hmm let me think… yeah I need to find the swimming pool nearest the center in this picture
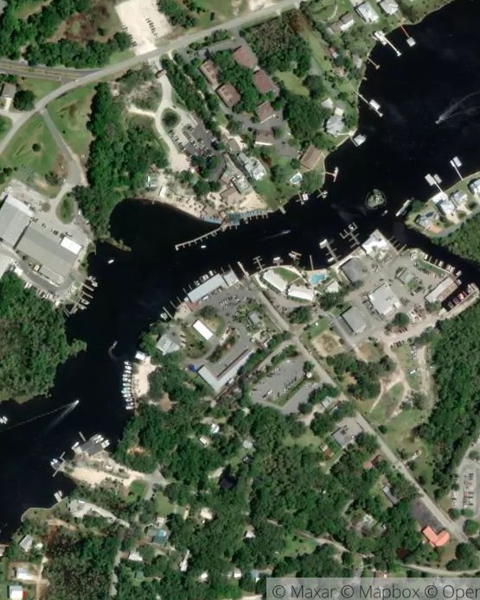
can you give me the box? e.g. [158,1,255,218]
[310,271,326,284]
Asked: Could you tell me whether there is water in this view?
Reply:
Yes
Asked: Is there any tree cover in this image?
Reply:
Yes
